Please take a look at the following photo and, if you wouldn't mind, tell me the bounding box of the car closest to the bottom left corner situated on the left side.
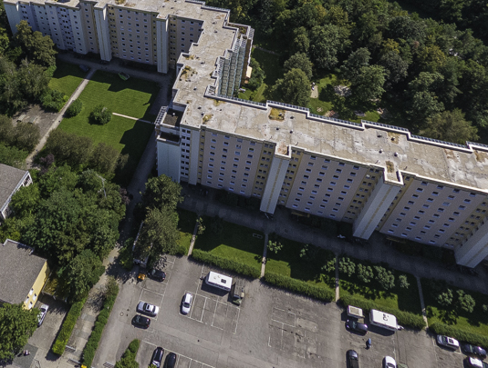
[34,304,48,326]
